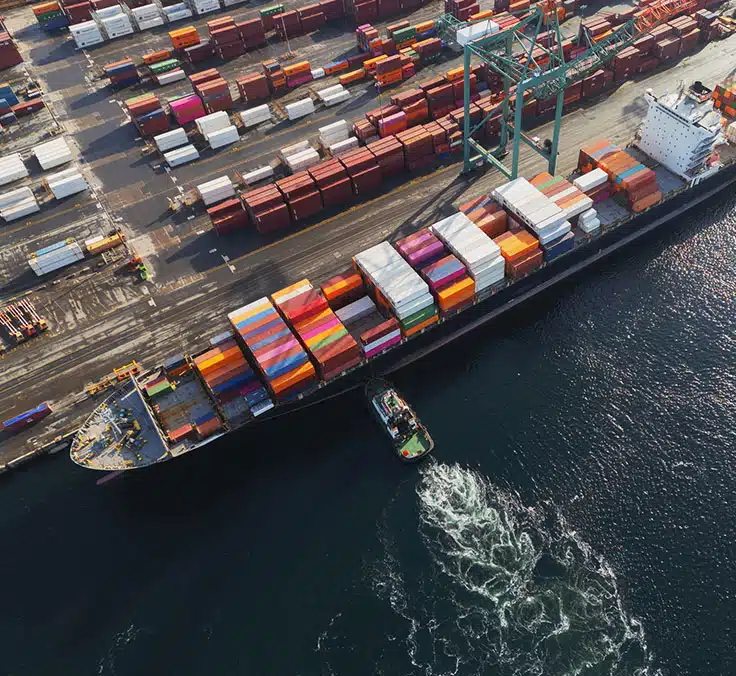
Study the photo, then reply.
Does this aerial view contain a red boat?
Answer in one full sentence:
No, there's no red boat here.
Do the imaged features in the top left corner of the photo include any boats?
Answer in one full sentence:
No, in the top left corner of the photo there is no boat.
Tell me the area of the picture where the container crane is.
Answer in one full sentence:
You can find the container crane in the top right area of the picture.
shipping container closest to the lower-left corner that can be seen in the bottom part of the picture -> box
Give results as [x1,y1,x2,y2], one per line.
[0,400,50,432]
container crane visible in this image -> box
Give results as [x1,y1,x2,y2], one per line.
[433,0,714,185]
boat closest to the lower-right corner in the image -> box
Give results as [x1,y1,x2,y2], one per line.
[364,369,434,466]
